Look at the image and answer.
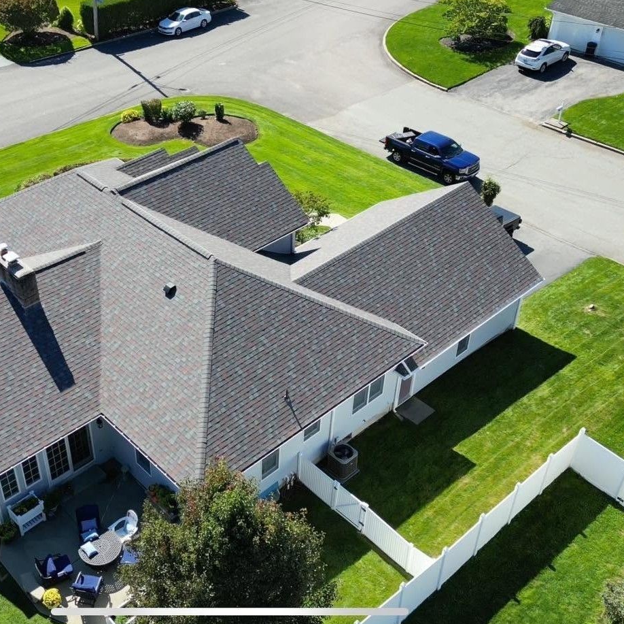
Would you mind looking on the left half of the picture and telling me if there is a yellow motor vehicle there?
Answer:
No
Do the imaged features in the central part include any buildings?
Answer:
Yes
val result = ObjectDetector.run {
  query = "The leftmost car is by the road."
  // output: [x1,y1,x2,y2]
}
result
[154,8,214,37]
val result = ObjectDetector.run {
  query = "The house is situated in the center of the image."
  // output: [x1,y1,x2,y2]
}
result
[0,142,543,545]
